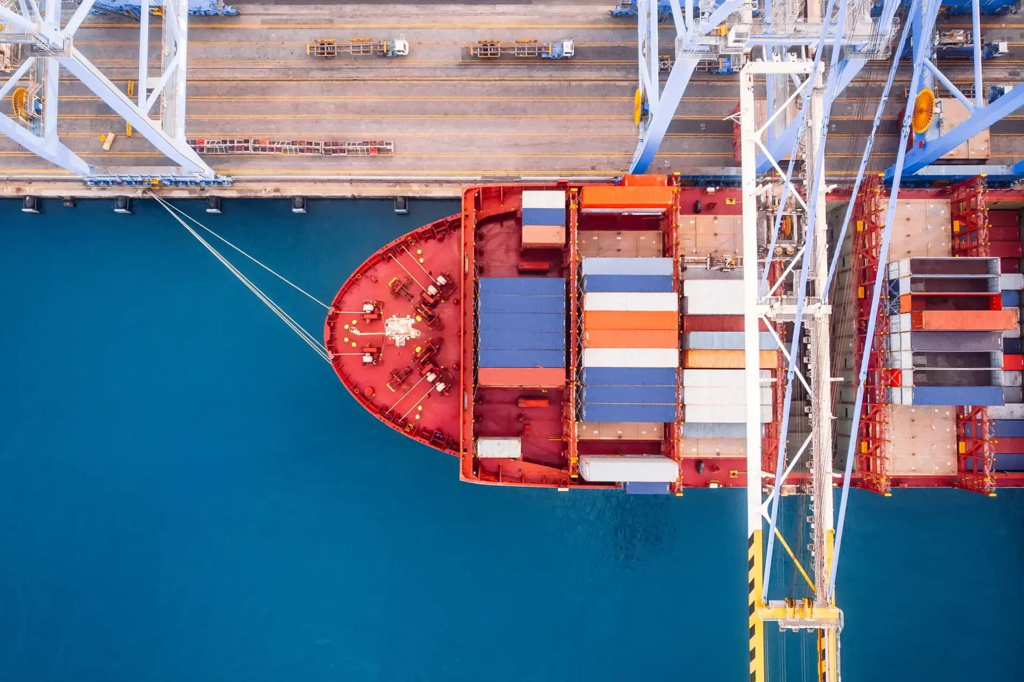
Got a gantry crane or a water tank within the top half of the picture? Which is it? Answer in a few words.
gantry crane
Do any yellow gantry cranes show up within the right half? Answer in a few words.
No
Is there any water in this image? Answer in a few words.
Yes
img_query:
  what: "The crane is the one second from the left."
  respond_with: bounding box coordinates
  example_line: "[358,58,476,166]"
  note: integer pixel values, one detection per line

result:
[596,0,937,682]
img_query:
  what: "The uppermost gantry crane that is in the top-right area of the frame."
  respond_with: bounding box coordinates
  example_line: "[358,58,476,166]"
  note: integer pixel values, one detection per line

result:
[862,0,1024,185]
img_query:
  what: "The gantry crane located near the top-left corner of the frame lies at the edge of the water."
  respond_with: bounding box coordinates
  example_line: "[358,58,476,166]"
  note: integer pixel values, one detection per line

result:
[0,0,244,188]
